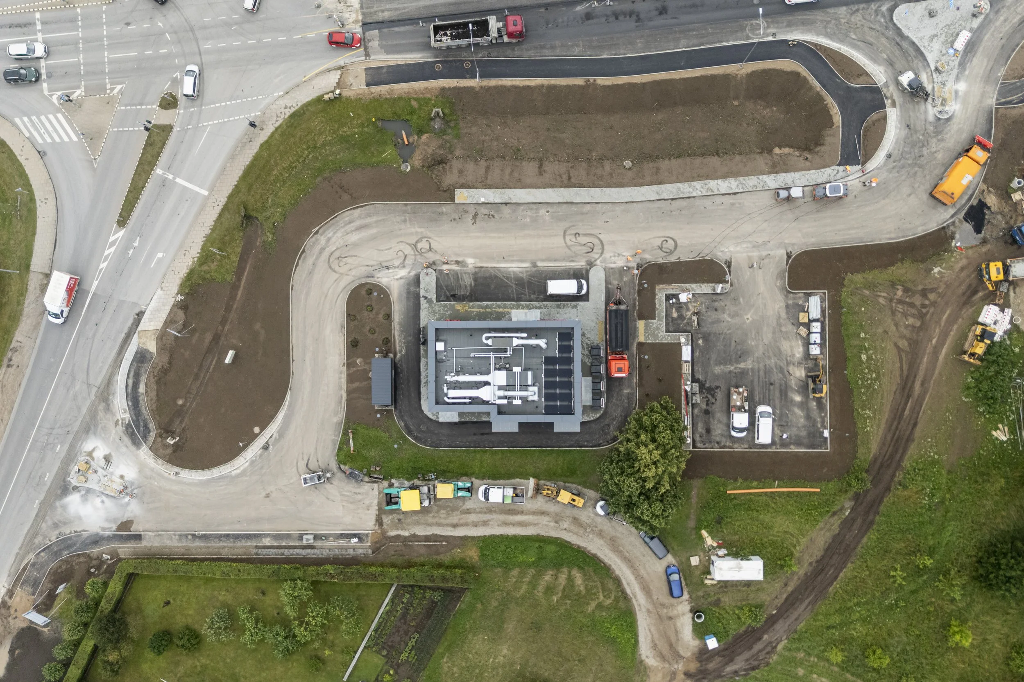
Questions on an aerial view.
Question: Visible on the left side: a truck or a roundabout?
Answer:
truck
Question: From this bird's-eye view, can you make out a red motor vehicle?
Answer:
Yes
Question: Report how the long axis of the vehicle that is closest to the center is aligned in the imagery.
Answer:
from left to right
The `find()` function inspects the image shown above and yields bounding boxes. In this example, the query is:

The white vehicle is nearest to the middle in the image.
[547,277,587,297]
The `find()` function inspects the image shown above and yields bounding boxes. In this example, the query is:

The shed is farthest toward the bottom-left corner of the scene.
[372,358,394,404]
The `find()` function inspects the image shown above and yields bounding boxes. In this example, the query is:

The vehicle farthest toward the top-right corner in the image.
[891,69,932,108]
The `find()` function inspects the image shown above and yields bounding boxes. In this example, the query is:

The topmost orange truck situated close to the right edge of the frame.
[921,136,992,214]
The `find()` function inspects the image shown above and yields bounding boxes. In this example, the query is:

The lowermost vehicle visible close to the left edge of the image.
[35,268,77,324]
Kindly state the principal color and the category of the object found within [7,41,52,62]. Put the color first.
white car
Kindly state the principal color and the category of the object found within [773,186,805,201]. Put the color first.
white work vehicle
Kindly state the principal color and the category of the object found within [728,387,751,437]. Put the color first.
white truck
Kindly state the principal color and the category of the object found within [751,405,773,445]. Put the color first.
white vehicle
